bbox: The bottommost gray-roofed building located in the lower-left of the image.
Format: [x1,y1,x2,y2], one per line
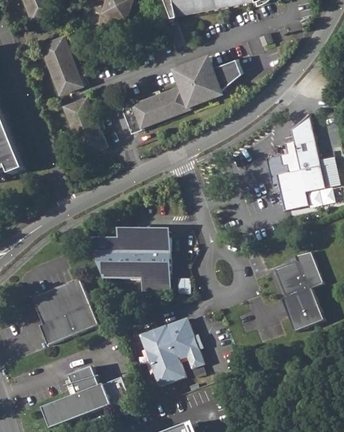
[42,366,124,423]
